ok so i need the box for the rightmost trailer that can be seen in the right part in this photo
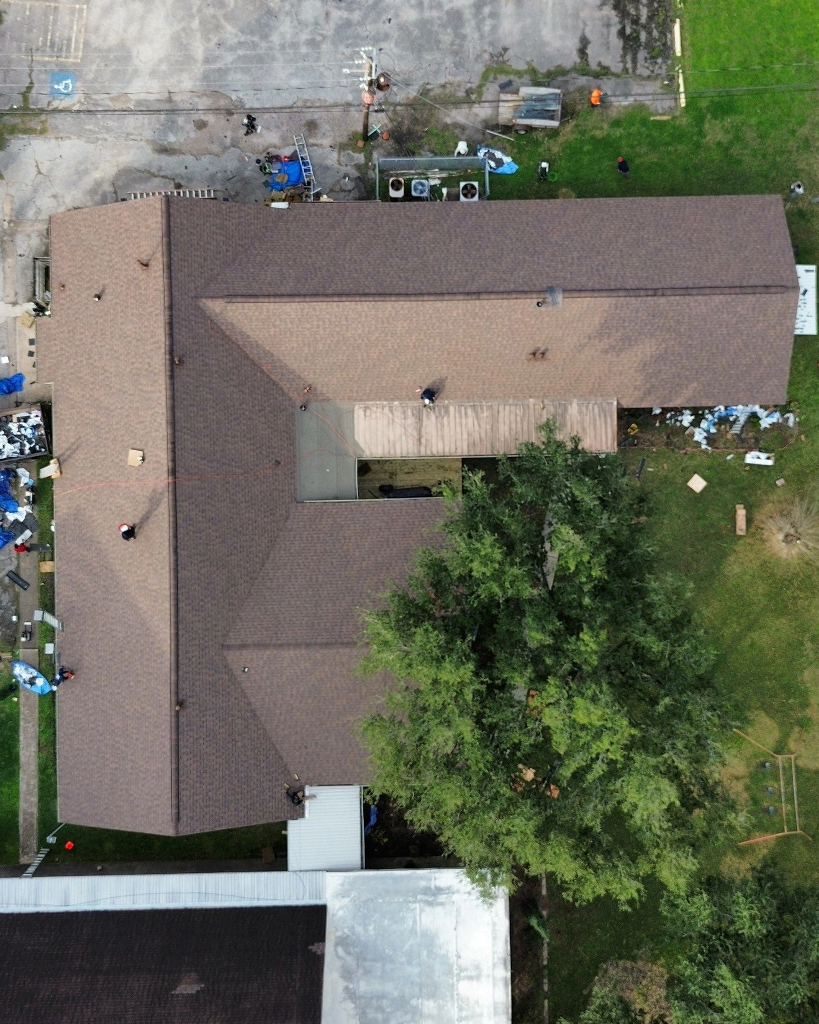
[499,84,571,136]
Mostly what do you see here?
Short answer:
buildings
